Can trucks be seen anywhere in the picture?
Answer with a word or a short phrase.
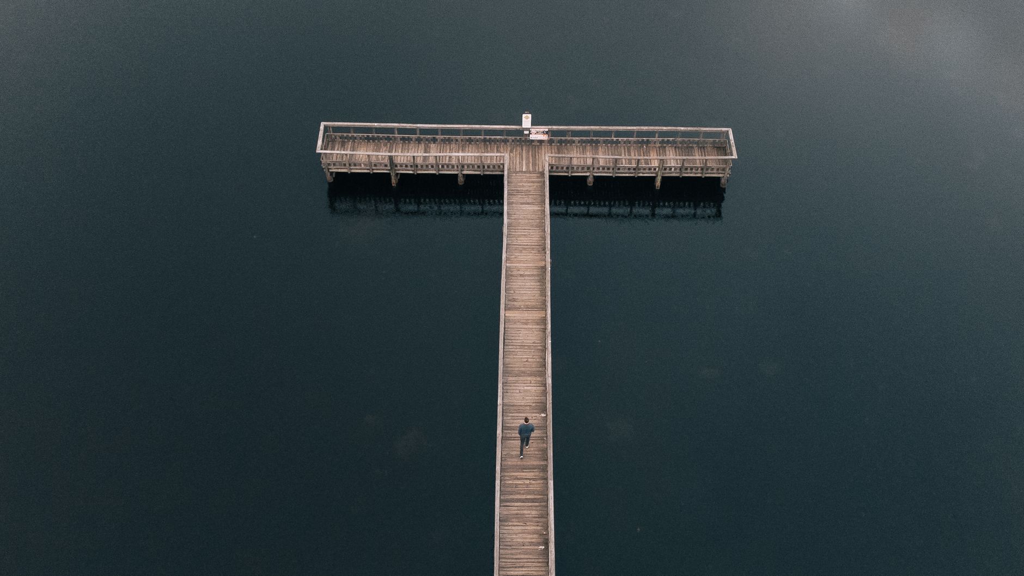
No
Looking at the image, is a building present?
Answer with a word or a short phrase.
No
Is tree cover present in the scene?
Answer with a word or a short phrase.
No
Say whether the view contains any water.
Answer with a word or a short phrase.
Yes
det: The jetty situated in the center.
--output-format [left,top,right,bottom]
[316,122,737,576]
